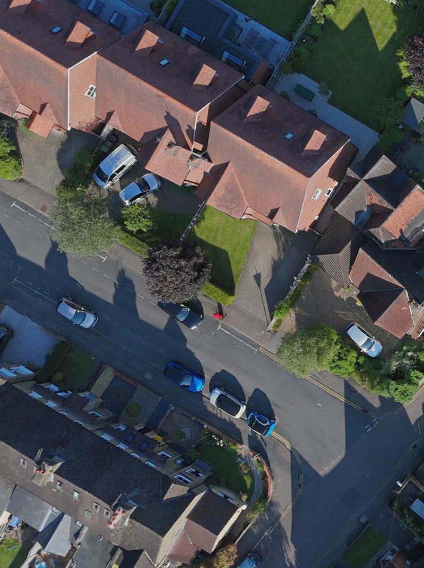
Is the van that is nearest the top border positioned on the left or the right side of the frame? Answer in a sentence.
The van that is nearest the top border appears in the left half of the scene.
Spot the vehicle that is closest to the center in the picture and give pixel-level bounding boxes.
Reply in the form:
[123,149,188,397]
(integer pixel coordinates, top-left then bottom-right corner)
[156,297,203,329]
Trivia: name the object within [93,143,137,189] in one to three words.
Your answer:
van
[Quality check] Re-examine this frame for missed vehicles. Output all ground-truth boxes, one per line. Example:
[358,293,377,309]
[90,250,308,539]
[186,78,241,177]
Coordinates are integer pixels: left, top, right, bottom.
[54,298,100,329]
[0,324,16,355]
[163,363,205,391]
[93,143,137,189]
[210,389,247,419]
[344,320,383,356]
[244,411,277,436]
[156,297,203,329]
[118,173,164,207]
[238,552,262,568]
